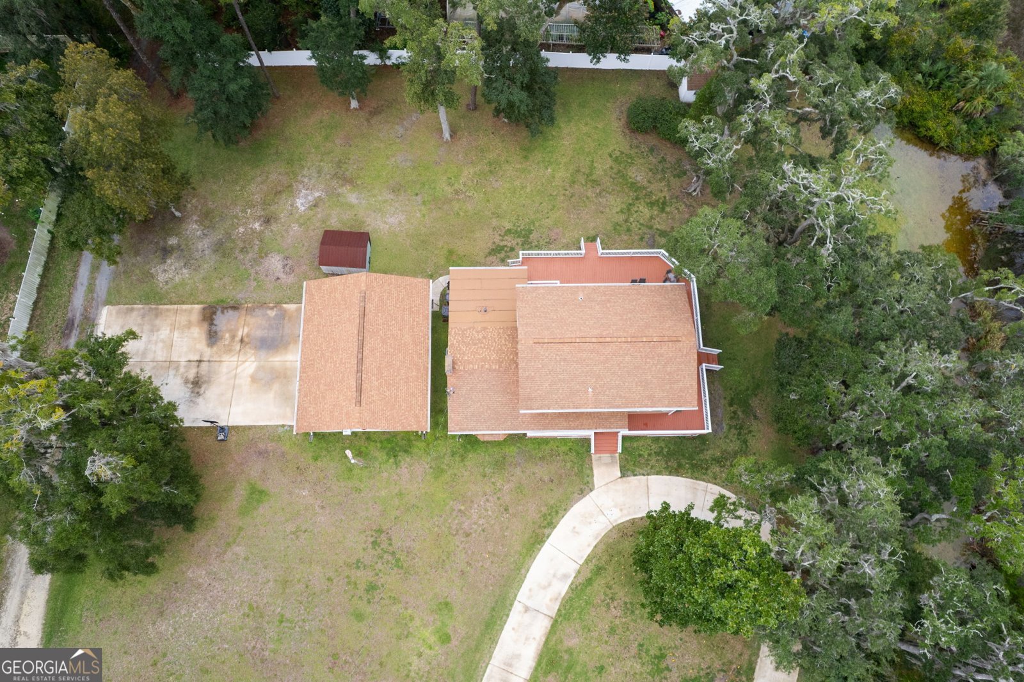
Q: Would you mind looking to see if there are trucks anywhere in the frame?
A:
No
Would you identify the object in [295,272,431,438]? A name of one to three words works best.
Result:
building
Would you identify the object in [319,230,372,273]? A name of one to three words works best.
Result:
shed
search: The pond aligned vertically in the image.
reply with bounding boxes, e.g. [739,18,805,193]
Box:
[864,119,1024,659]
